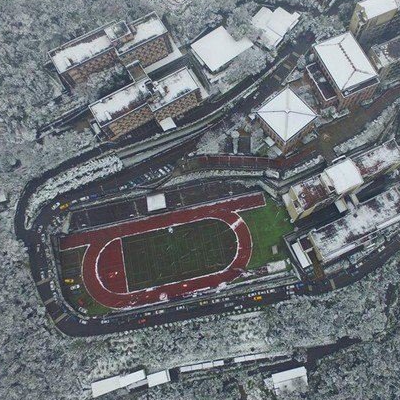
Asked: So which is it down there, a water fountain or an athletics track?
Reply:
athletics track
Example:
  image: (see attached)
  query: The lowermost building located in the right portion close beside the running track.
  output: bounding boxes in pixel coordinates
[308,187,400,263]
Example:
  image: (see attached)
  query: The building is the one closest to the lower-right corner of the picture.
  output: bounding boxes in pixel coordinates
[264,364,310,395]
